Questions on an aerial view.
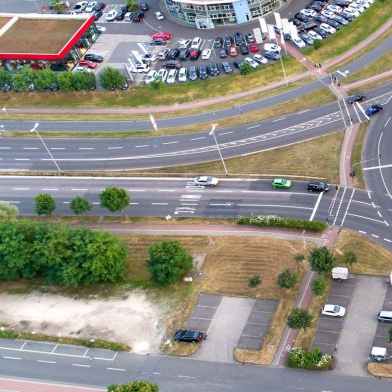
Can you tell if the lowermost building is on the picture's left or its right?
left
